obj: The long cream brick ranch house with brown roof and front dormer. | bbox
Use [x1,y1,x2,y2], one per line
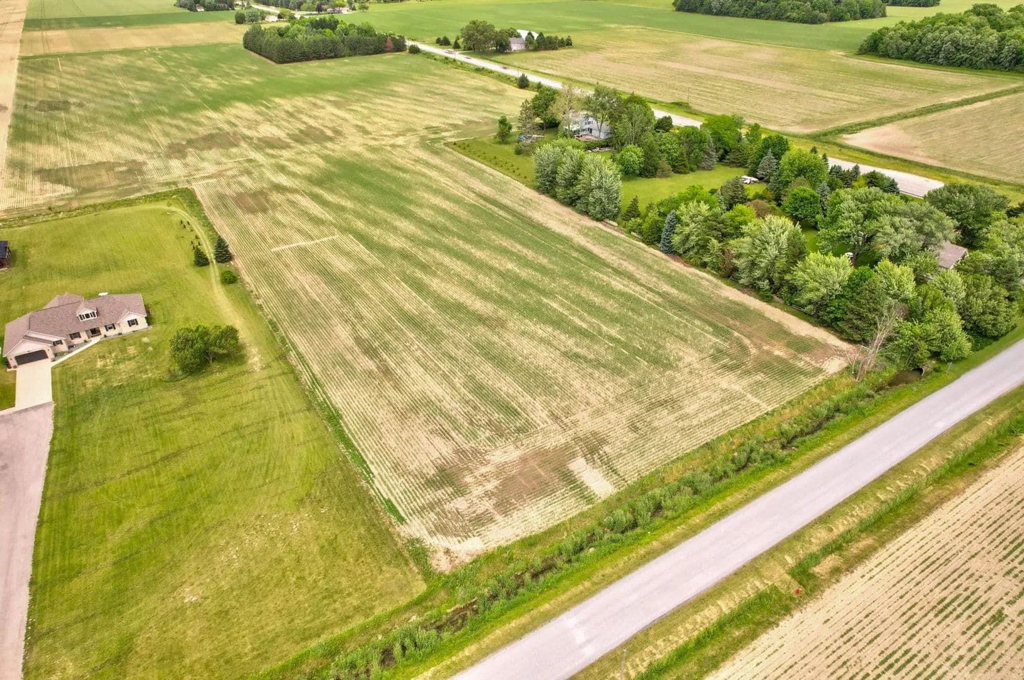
[0,285,151,371]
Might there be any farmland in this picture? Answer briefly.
Yes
